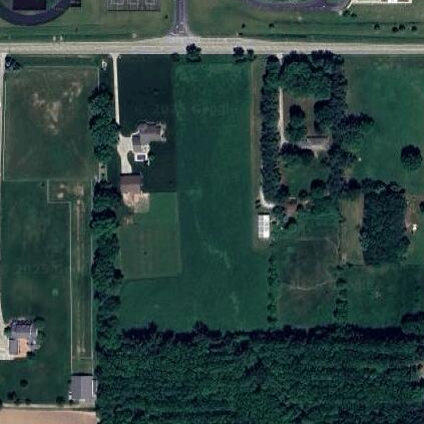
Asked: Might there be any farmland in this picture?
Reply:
Yes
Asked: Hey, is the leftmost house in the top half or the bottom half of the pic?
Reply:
bottom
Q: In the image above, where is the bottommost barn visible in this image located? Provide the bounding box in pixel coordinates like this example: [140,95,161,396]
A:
[69,374,94,401]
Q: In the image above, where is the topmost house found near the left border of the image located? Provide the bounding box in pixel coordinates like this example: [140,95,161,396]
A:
[9,319,37,354]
